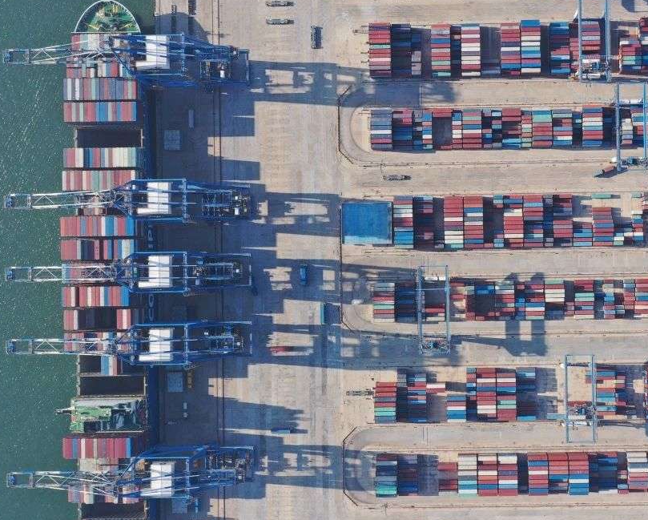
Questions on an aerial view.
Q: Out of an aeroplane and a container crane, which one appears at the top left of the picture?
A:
container crane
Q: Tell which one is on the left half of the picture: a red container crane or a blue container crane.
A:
blue container crane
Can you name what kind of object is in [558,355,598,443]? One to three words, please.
container crane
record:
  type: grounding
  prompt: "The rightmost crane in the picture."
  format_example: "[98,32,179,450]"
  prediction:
[607,82,648,170]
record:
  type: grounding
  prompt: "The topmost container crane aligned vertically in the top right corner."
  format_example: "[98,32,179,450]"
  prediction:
[570,0,611,83]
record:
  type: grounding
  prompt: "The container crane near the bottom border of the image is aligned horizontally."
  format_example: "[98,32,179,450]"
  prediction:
[6,433,255,501]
